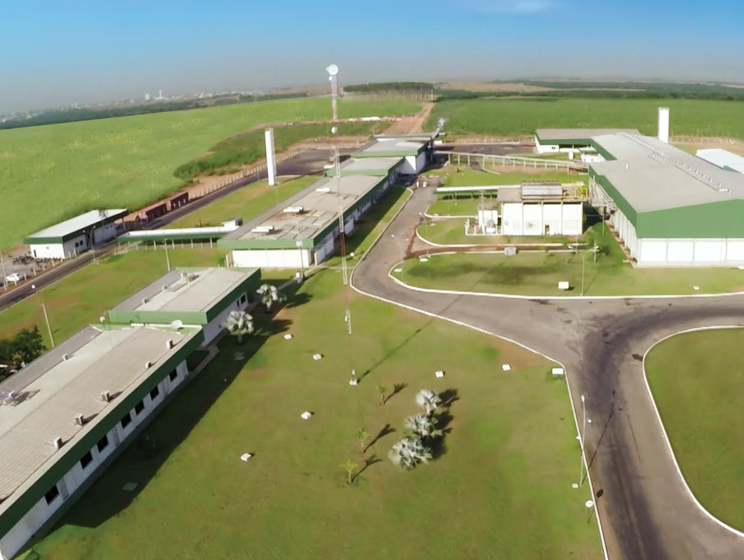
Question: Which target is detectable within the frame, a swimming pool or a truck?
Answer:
truck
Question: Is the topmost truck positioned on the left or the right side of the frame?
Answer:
left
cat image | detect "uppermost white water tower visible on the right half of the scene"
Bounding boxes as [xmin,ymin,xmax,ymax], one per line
[658,108,670,142]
